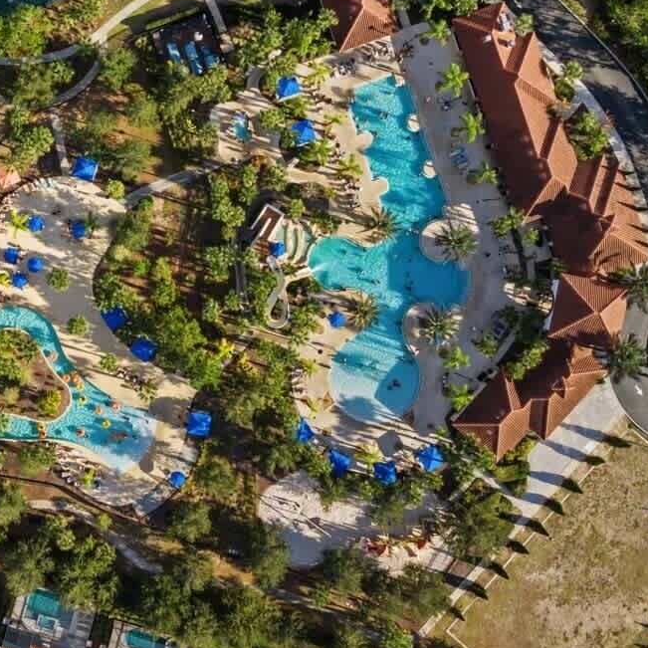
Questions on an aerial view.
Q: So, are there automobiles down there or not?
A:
No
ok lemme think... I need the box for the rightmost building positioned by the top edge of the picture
[453,0,578,220]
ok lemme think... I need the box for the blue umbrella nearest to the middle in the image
[327,311,344,327]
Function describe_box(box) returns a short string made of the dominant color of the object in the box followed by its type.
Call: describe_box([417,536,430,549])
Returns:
red umbrella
